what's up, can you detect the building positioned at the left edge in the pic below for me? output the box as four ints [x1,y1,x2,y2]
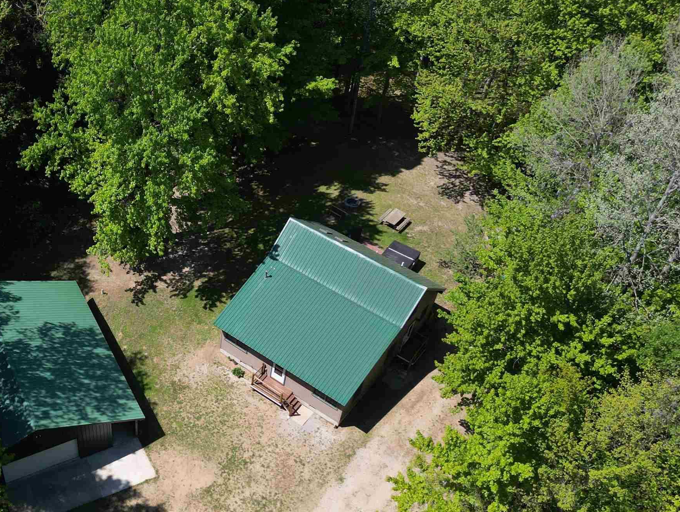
[0,279,146,486]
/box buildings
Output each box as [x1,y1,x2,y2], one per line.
[213,216,445,427]
[0,279,146,486]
